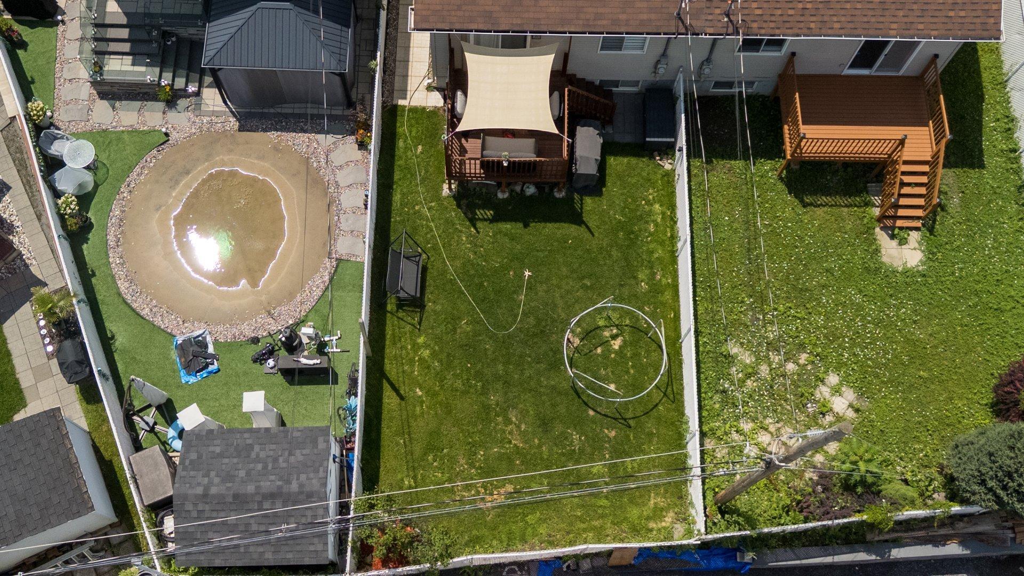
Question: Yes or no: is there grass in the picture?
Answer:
Yes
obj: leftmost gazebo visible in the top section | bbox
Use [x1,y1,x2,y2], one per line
[200,0,363,114]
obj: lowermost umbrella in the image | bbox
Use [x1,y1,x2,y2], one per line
[124,377,171,441]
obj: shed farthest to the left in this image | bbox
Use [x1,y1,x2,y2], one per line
[0,407,117,569]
